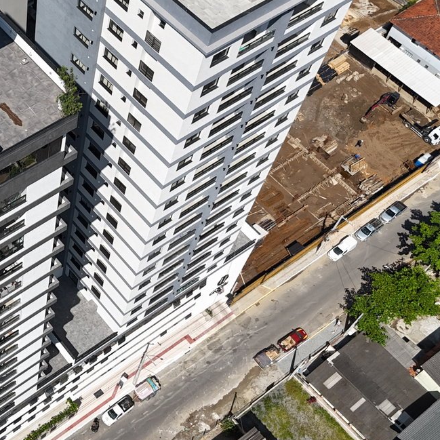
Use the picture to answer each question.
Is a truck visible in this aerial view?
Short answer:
Yes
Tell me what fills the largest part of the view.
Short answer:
buildings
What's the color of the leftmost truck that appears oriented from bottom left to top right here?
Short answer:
white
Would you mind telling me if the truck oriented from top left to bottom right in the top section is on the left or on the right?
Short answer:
right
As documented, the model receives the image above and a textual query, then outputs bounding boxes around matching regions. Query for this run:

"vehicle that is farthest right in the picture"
[395,107,440,145]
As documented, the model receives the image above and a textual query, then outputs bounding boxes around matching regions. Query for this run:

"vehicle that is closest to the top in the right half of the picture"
[362,88,408,119]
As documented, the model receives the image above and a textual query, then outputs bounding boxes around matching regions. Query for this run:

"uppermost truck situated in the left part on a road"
[128,372,166,407]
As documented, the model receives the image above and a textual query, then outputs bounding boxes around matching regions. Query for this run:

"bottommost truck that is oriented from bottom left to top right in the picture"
[100,391,136,429]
